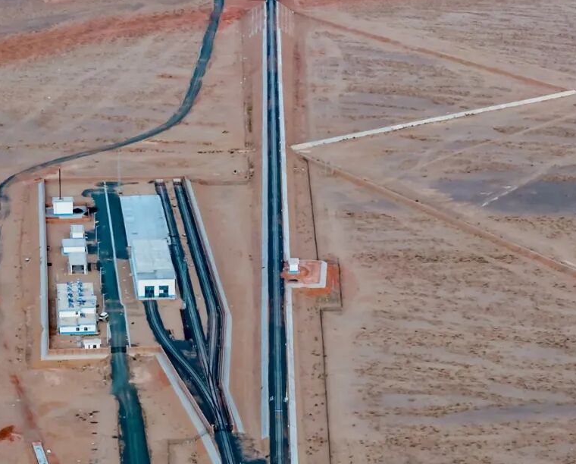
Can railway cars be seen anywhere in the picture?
No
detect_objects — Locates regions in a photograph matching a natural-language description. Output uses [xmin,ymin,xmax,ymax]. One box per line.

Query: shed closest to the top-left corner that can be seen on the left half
[46,197,88,222]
